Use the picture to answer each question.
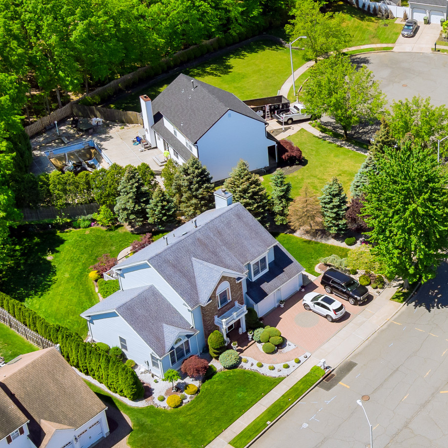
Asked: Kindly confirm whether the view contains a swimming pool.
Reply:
Yes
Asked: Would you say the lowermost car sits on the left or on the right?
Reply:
right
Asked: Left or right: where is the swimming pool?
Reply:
left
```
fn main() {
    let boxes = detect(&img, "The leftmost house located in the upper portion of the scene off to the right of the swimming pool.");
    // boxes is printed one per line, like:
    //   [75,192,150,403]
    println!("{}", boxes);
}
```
[139,73,282,185]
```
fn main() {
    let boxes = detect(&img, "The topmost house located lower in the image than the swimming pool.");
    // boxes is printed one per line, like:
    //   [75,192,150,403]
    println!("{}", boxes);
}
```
[75,189,305,379]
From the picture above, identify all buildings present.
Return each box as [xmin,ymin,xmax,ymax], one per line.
[0,350,109,448]
[139,73,282,185]
[406,0,448,23]
[75,189,305,379]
